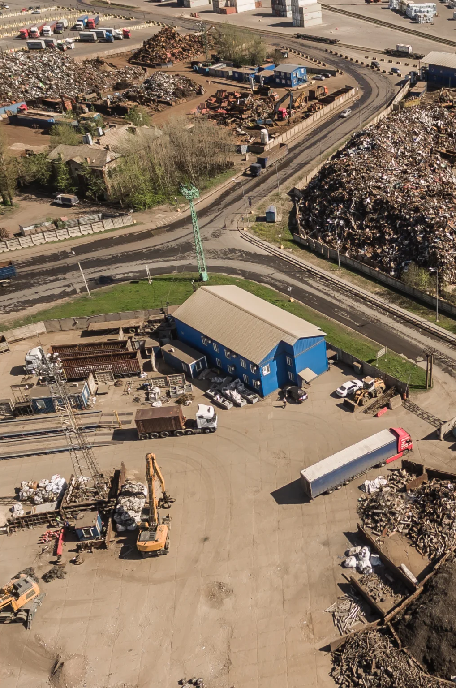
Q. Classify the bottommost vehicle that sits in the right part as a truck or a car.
truck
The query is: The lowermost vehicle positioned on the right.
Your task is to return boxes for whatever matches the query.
[301,427,419,494]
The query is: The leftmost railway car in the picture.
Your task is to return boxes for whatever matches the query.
[291,31,341,44]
